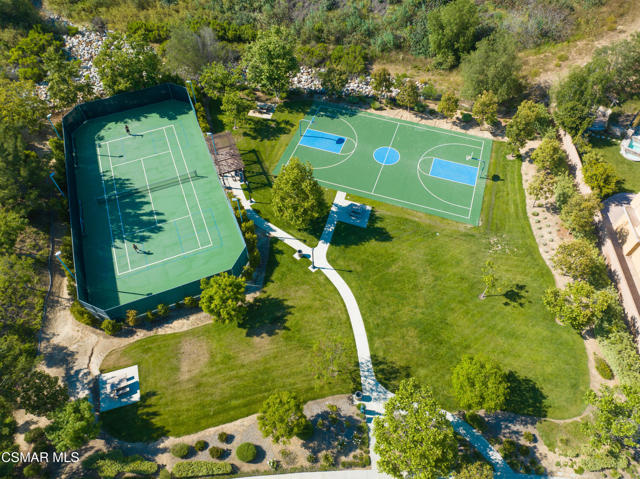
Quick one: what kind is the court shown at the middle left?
tennis court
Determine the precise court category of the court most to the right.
basketball court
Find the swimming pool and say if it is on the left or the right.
right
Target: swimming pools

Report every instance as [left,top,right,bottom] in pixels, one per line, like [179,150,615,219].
[617,129,640,164]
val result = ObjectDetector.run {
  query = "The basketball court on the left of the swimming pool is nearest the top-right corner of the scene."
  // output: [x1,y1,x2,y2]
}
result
[271,100,493,224]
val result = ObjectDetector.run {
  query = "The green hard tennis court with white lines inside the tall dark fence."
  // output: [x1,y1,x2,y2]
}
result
[72,100,246,325]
